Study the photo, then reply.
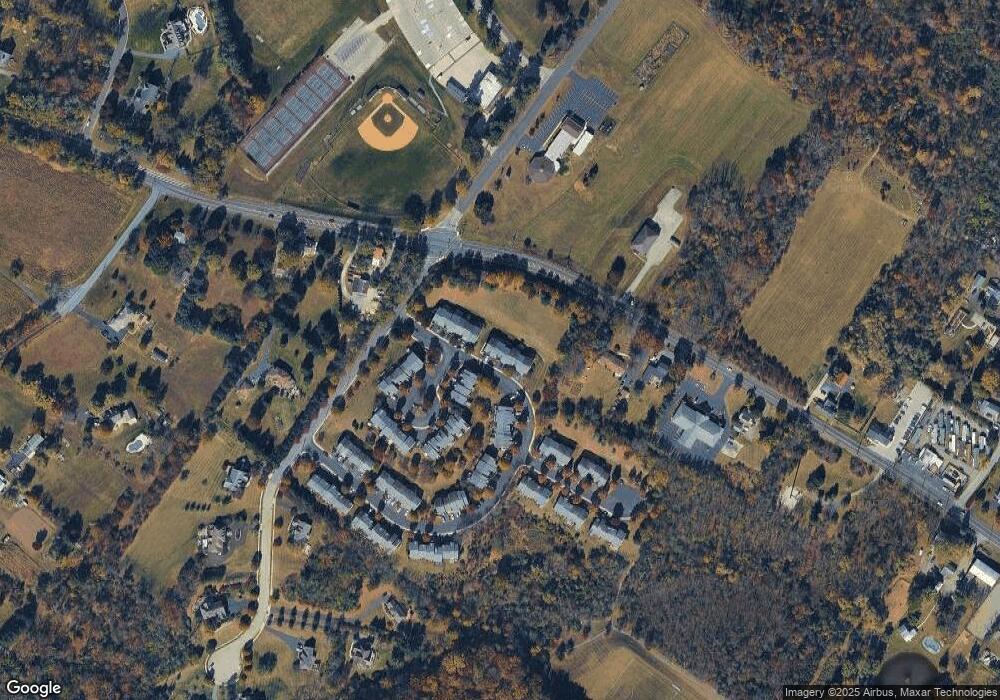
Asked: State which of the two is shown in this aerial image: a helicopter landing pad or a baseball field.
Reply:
baseball field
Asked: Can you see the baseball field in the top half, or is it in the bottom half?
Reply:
top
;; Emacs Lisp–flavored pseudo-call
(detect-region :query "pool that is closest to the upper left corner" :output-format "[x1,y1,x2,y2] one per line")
[188,7,209,34]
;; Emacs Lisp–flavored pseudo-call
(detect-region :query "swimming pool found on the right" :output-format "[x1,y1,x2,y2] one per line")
[922,637,941,652]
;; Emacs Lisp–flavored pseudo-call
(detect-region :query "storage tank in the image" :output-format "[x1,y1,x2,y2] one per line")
[877,651,938,700]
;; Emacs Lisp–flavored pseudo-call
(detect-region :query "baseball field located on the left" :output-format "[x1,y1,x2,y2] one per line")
[357,92,417,151]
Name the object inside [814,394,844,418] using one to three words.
house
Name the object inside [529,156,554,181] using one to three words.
building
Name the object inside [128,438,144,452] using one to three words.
swimming pool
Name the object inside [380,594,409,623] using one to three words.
house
